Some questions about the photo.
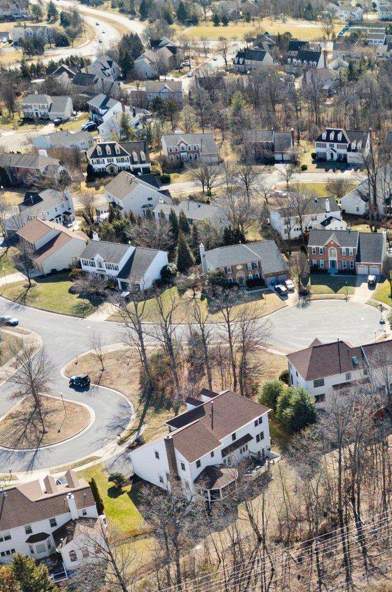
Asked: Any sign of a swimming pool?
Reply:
No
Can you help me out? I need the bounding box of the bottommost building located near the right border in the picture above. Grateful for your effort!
[289,325,392,414]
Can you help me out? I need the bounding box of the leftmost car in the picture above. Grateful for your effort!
[0,315,19,327]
